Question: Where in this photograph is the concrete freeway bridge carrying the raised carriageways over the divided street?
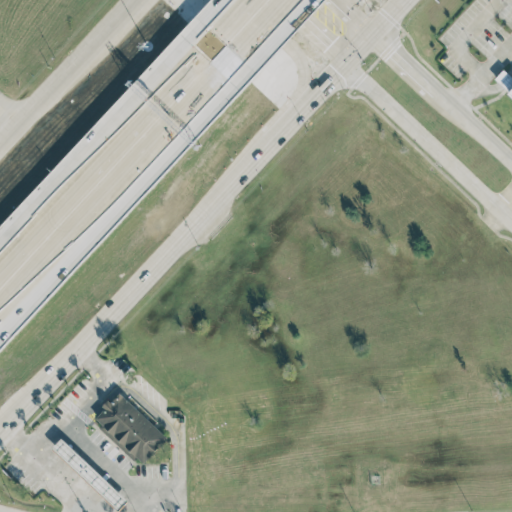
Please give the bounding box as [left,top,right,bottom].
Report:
[195,0,324,74]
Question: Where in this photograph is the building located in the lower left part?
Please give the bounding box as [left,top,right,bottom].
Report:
[96,394,166,464]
